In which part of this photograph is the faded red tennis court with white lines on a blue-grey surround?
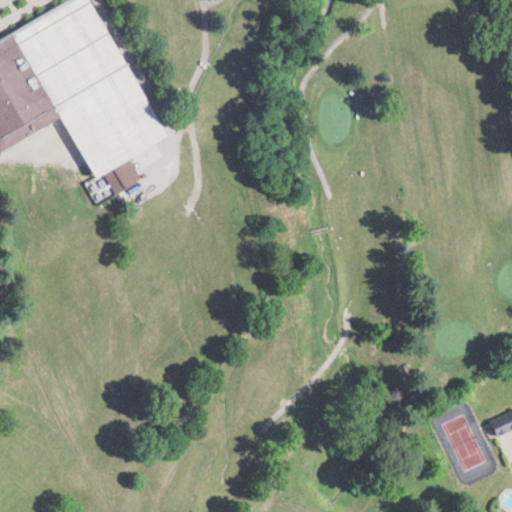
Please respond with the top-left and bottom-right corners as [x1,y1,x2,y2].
[434,404,496,485]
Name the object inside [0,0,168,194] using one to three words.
building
